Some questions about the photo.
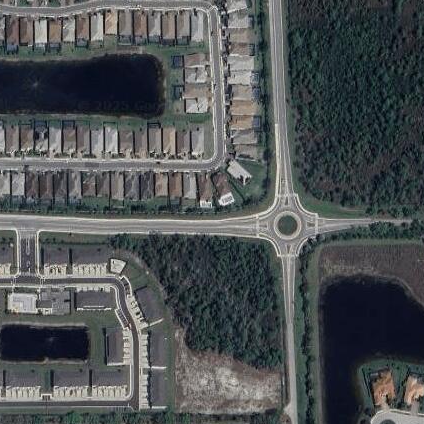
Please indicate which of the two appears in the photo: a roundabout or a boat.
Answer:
roundabout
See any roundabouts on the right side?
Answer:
Yes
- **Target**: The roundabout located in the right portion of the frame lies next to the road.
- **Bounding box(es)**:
[232,177,337,277]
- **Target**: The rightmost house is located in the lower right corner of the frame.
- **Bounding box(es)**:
[404,371,424,405]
